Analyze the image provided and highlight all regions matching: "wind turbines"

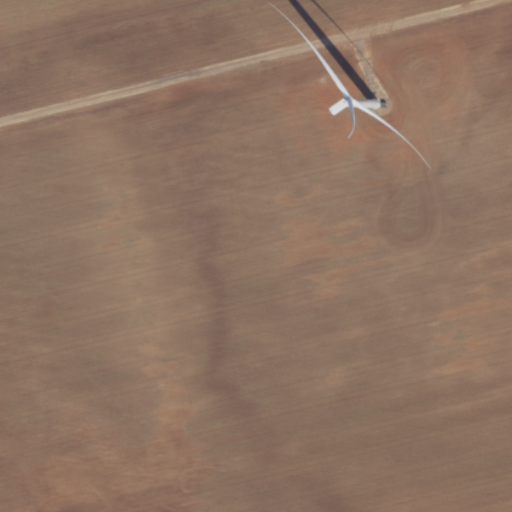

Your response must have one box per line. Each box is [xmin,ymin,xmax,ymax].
[270,2,428,166]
